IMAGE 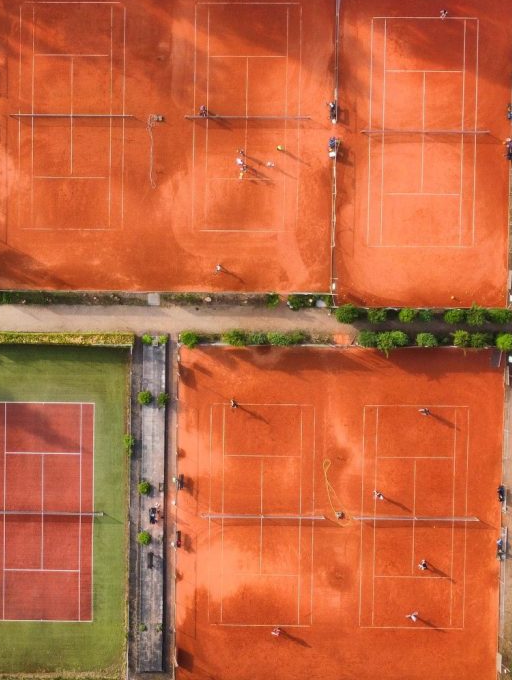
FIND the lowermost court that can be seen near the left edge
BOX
[0,343,130,679]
